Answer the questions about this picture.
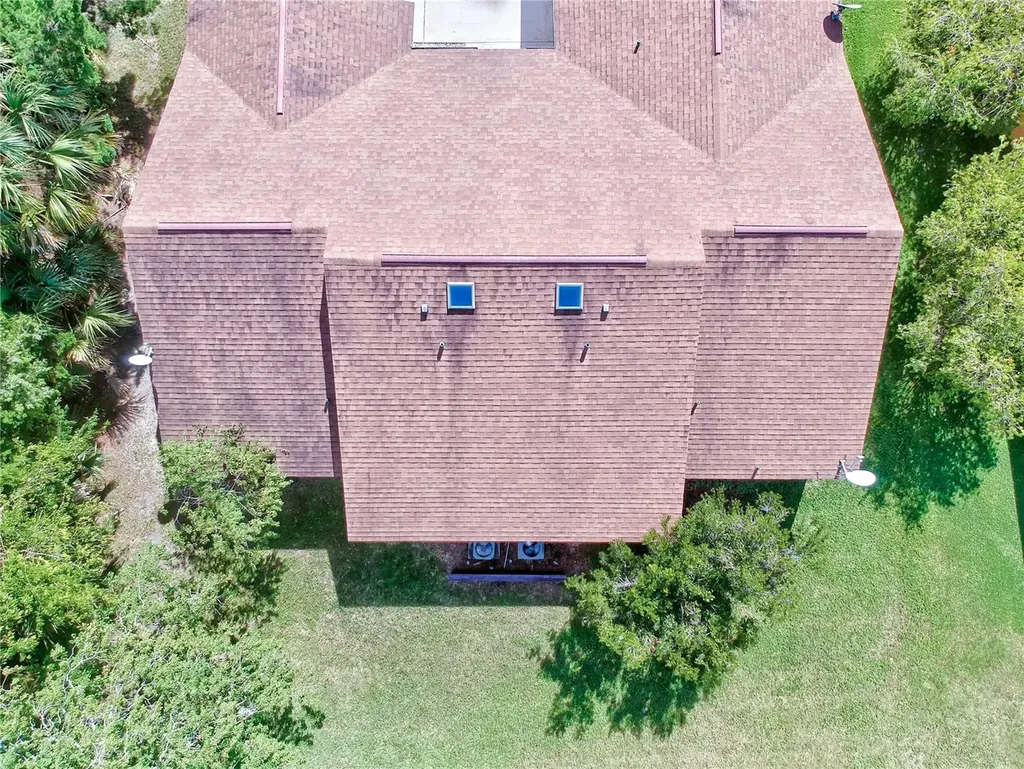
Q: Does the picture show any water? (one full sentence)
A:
No, there is no water in the image.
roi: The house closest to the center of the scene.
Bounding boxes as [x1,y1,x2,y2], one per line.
[123,0,905,543]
